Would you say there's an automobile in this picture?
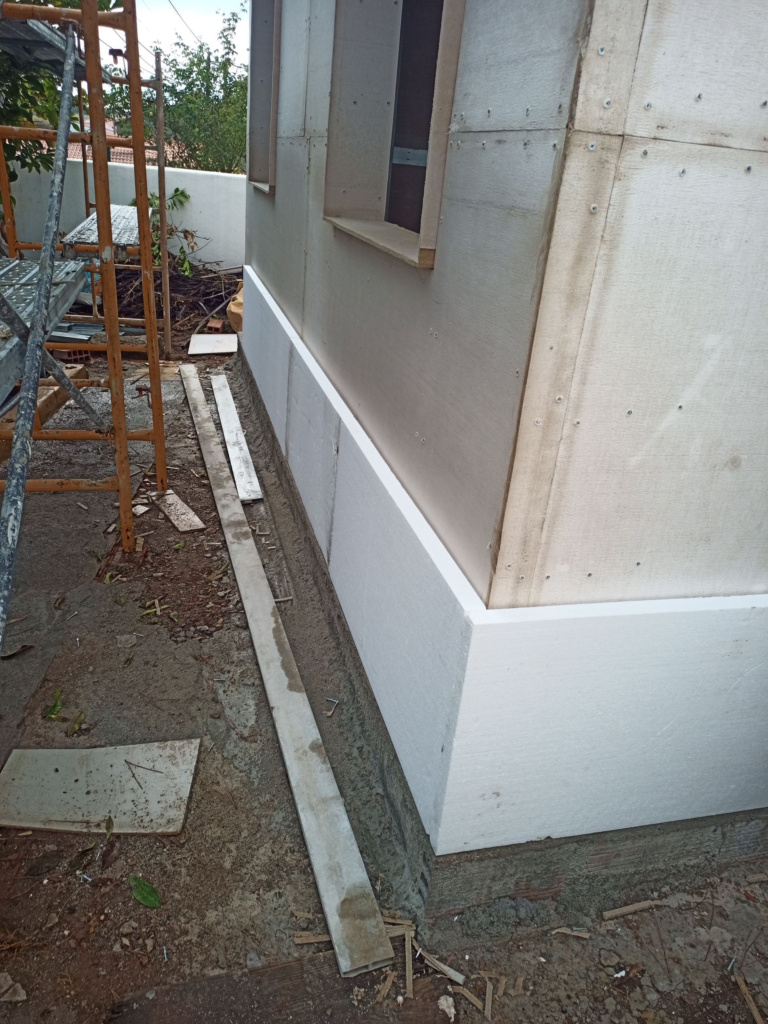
No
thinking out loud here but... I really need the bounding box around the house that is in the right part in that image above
[220,0,768,938]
